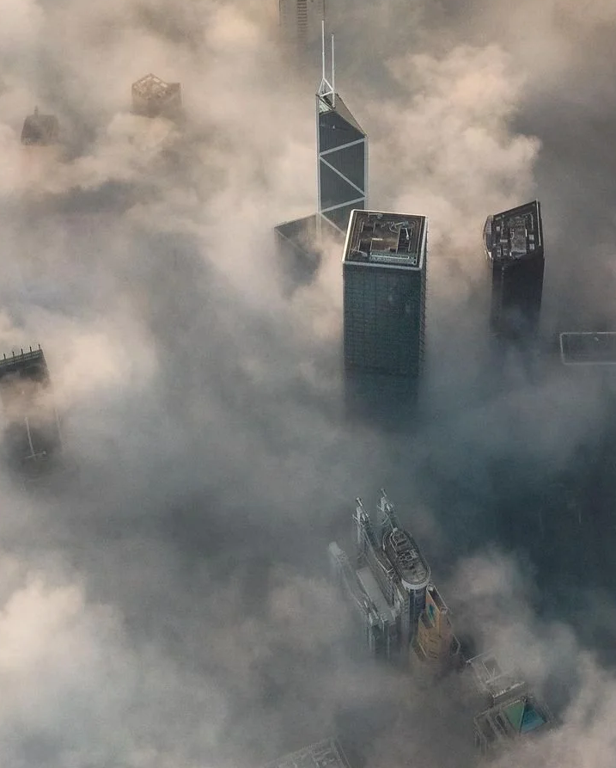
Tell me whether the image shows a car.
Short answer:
No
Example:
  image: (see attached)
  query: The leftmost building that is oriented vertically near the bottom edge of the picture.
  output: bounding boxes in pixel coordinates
[330,488,400,767]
